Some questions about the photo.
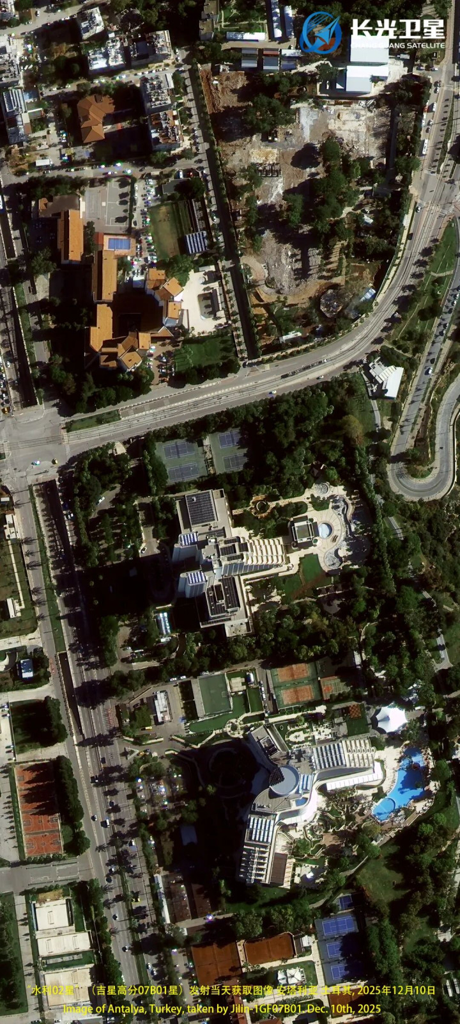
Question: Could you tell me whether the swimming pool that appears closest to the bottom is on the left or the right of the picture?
right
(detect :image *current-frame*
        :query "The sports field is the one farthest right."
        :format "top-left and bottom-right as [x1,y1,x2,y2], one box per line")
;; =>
[192,673,233,718]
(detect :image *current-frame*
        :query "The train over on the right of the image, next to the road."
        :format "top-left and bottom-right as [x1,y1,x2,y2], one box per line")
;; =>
[281,357,328,377]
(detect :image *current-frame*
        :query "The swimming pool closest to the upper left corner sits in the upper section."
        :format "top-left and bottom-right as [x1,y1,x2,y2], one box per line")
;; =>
[197,291,215,318]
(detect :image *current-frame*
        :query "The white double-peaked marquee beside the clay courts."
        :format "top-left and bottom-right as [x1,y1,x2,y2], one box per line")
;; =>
[278,968,304,984]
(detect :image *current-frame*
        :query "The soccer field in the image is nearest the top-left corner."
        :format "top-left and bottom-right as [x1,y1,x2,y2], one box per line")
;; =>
[153,202,181,262]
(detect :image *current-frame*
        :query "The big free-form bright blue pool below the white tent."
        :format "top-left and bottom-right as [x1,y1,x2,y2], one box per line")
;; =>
[371,745,429,822]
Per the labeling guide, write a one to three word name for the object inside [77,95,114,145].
house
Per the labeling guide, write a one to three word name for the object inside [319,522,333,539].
swimming pool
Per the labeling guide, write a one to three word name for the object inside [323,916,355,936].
tennis court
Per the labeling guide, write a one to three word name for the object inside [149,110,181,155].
building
